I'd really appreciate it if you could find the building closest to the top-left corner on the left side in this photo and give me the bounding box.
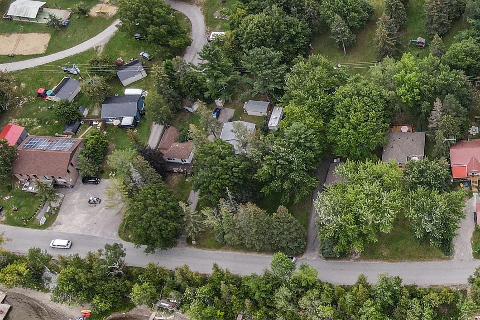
[3,0,72,24]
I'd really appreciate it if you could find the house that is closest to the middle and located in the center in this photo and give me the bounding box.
[220,121,258,153]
